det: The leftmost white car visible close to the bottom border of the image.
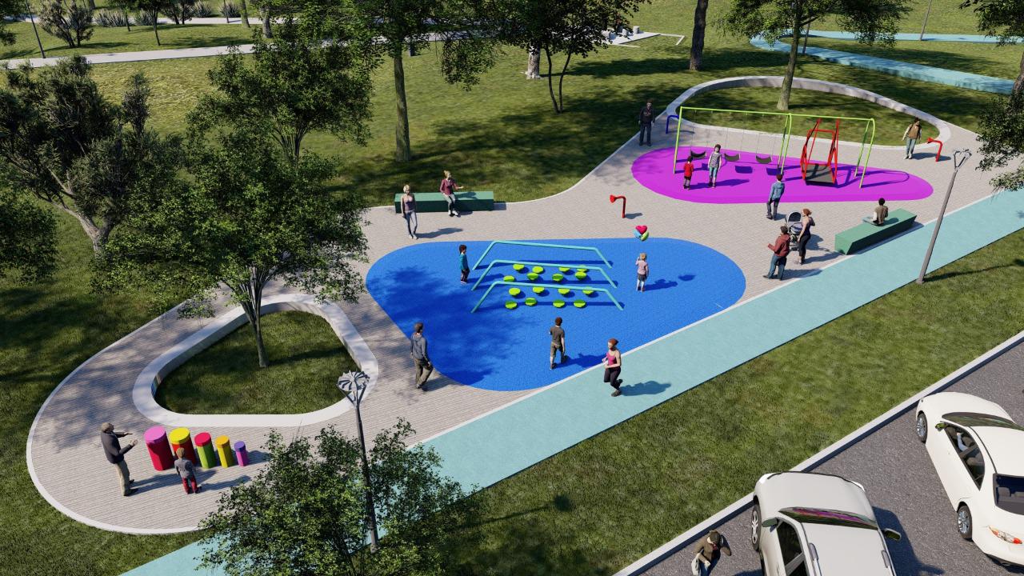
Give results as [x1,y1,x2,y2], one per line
[753,472,895,576]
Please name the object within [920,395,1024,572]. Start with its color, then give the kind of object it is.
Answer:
white car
